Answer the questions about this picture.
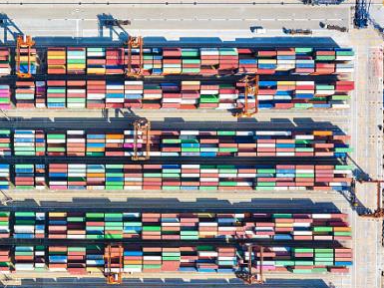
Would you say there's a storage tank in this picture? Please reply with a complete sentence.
No, this view has no storage tank in it.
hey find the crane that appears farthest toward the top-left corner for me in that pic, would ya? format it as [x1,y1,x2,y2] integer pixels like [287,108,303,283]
[16,35,36,81]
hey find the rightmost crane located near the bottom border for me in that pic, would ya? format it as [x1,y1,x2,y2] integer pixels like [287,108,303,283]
[235,239,264,285]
